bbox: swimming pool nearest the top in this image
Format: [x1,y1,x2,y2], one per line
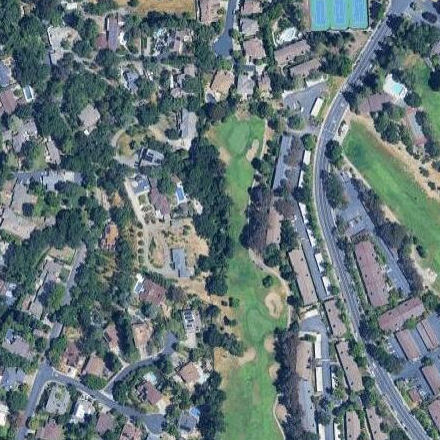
[277,27,297,41]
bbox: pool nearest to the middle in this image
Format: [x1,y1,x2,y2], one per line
[175,180,187,204]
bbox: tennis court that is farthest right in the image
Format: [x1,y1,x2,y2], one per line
[348,0,368,28]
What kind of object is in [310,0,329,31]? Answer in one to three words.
tennis court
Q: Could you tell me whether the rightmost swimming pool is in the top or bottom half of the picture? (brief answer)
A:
top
